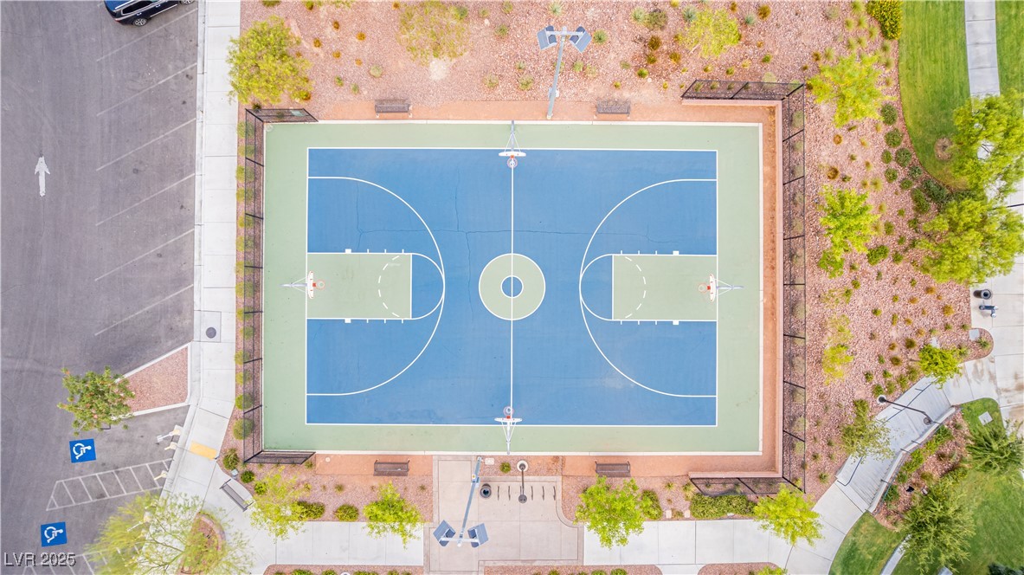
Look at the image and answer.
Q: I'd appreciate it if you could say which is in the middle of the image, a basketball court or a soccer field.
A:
basketball court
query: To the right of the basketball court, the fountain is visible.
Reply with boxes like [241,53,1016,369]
[976,305,1012,321]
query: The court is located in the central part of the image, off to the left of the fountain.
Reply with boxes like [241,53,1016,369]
[261,119,764,456]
